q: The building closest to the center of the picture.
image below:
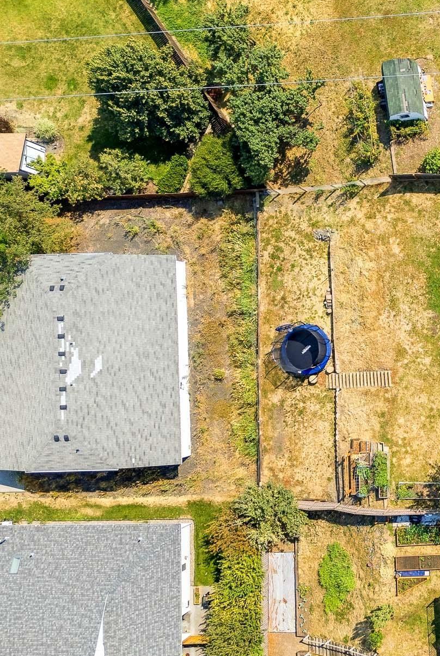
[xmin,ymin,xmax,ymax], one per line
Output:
[0,250,191,471]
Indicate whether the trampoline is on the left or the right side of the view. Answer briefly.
right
